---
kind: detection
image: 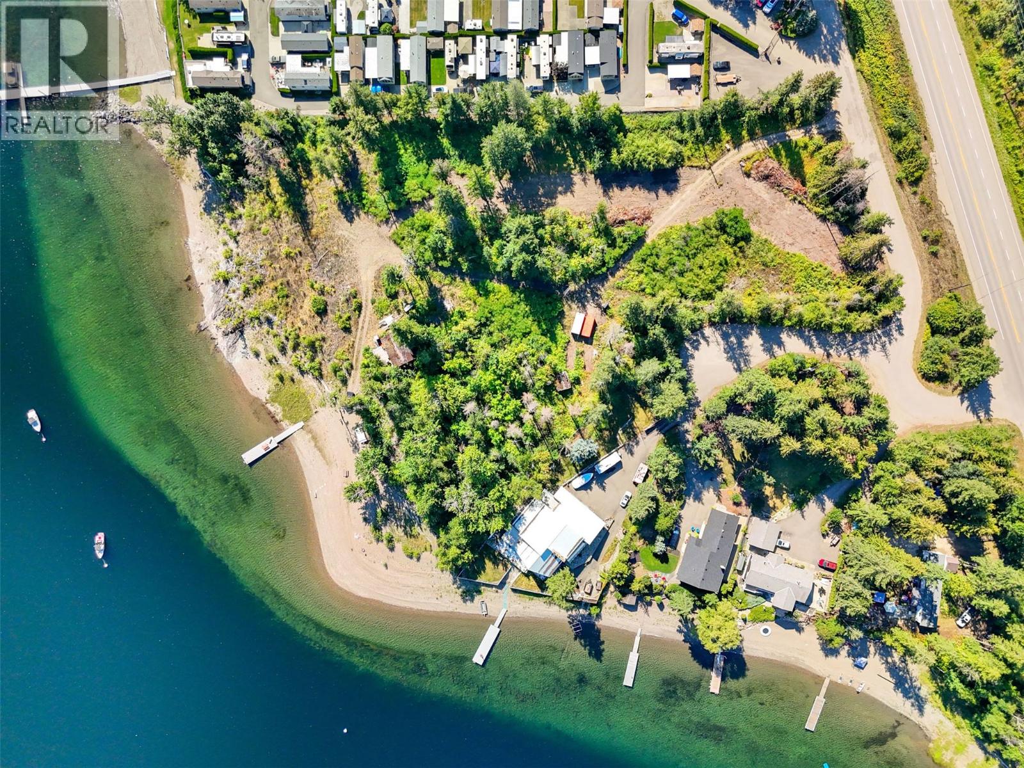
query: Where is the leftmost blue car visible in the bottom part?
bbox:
[668,529,680,549]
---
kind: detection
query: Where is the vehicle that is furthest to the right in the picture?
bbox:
[954,610,973,629]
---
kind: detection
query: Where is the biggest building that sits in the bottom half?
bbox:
[484,484,610,577]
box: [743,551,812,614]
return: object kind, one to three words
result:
house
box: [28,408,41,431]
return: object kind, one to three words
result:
boat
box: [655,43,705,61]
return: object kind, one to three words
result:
trailer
